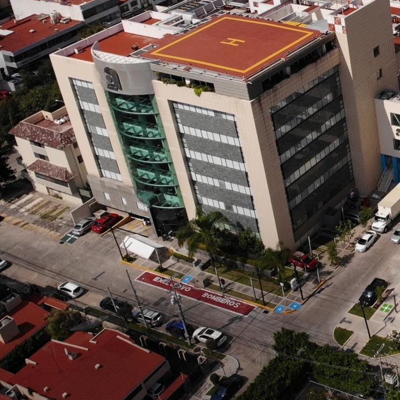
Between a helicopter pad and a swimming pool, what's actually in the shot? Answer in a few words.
helicopter pad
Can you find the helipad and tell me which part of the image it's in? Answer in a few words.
top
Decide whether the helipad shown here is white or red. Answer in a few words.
red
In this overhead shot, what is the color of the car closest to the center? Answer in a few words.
red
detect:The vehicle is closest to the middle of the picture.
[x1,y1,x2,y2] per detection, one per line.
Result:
[88,213,124,233]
